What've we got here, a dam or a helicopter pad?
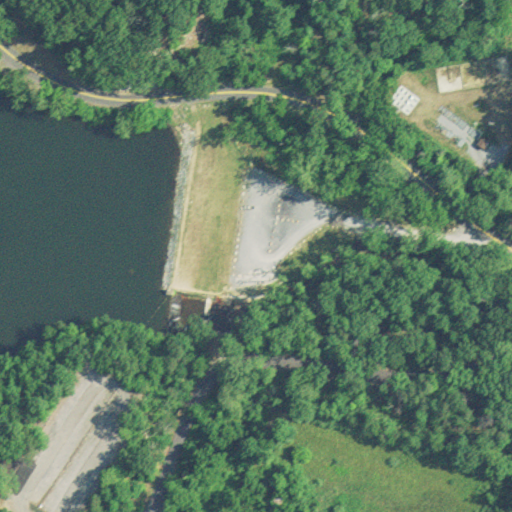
dam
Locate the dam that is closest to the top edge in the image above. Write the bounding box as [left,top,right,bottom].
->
[162,108,251,297]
